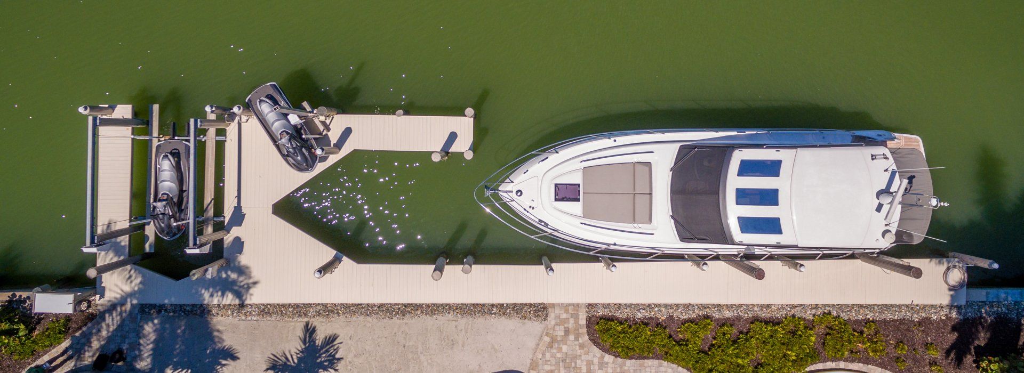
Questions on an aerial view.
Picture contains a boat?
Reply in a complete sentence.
Yes, the image includes a boat.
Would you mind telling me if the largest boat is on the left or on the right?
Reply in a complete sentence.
You can find the largest boat on the right side of the picture.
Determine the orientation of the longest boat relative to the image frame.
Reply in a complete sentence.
In this picture, the longest boat is oriented from left to right.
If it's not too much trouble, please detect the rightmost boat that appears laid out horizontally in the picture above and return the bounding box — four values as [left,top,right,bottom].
[474,127,949,261]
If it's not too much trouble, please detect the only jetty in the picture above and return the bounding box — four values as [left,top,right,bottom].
[97,105,966,304]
